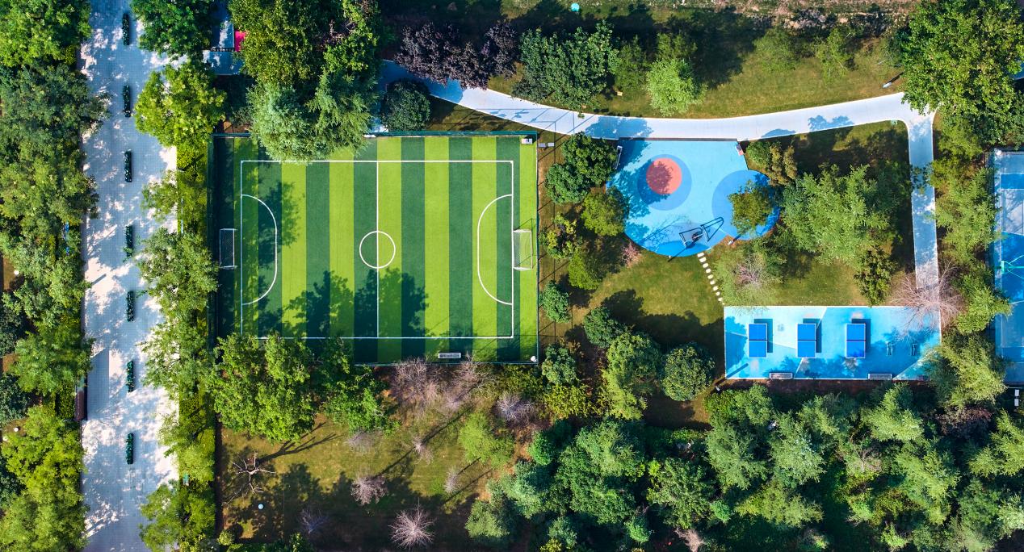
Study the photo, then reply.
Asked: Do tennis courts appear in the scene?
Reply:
Yes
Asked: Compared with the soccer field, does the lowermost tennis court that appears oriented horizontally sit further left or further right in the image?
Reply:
right of it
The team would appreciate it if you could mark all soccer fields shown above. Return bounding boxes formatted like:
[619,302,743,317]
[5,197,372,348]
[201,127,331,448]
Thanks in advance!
[216,134,537,364]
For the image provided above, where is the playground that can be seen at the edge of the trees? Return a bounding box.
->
[607,137,780,257]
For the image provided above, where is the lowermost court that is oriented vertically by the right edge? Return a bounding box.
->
[993,151,1024,383]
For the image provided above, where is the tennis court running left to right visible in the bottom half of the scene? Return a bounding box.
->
[724,306,941,379]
